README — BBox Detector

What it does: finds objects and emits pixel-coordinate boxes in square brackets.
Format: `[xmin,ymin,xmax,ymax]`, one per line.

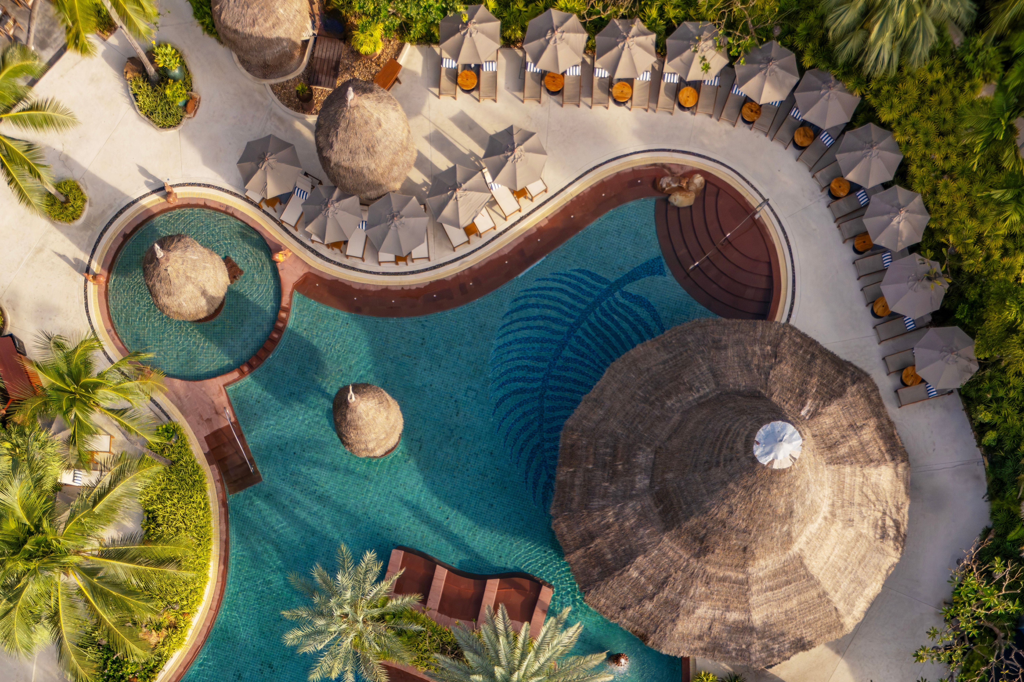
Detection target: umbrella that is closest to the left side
[237,135,304,206]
